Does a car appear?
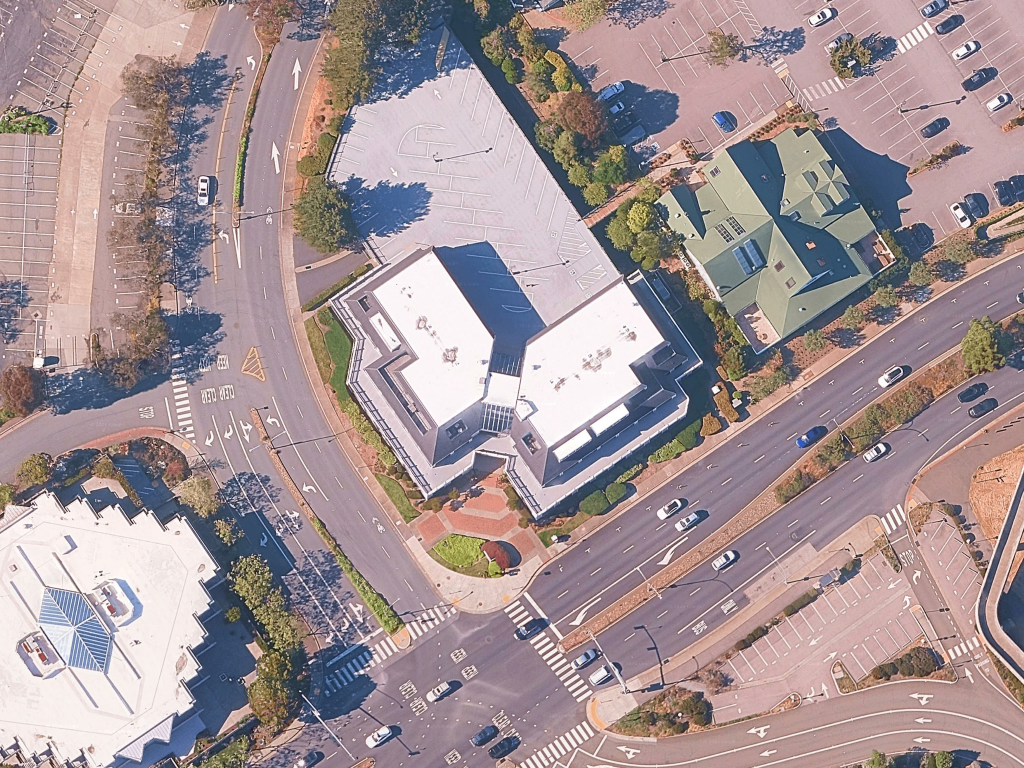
Yes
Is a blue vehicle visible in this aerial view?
Yes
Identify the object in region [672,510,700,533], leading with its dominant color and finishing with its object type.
white car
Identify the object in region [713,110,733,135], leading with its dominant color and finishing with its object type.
blue car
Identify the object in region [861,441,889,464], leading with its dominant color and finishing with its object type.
white car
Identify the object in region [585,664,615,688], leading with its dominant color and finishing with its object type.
white vehicle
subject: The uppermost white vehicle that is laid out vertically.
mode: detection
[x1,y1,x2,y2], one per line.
[196,177,210,205]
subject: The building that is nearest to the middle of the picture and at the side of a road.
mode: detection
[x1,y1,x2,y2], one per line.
[328,247,704,522]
